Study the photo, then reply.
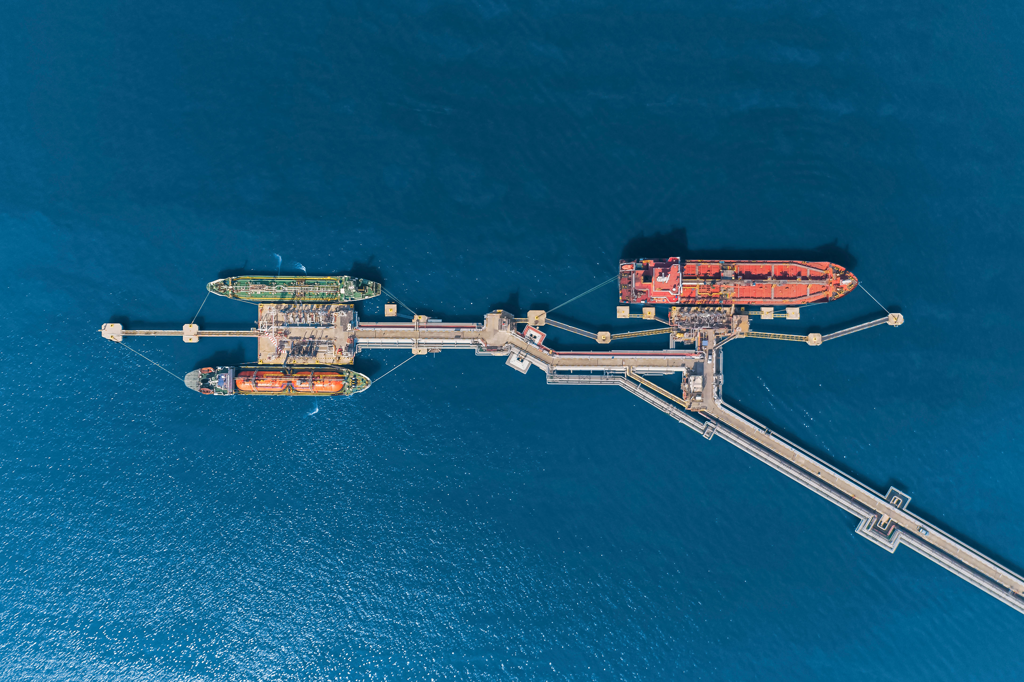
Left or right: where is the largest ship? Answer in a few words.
right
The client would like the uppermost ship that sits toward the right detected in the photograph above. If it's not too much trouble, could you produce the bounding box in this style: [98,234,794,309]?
[619,257,860,305]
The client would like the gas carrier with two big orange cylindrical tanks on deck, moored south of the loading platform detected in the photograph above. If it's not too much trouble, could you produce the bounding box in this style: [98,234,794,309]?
[184,366,371,396]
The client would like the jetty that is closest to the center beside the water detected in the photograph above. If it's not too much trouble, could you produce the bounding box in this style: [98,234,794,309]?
[481,310,512,346]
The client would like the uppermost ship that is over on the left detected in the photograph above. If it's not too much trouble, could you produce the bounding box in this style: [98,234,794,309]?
[207,276,381,302]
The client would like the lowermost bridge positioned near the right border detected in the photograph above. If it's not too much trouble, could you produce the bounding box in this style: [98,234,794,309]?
[708,407,1024,595]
